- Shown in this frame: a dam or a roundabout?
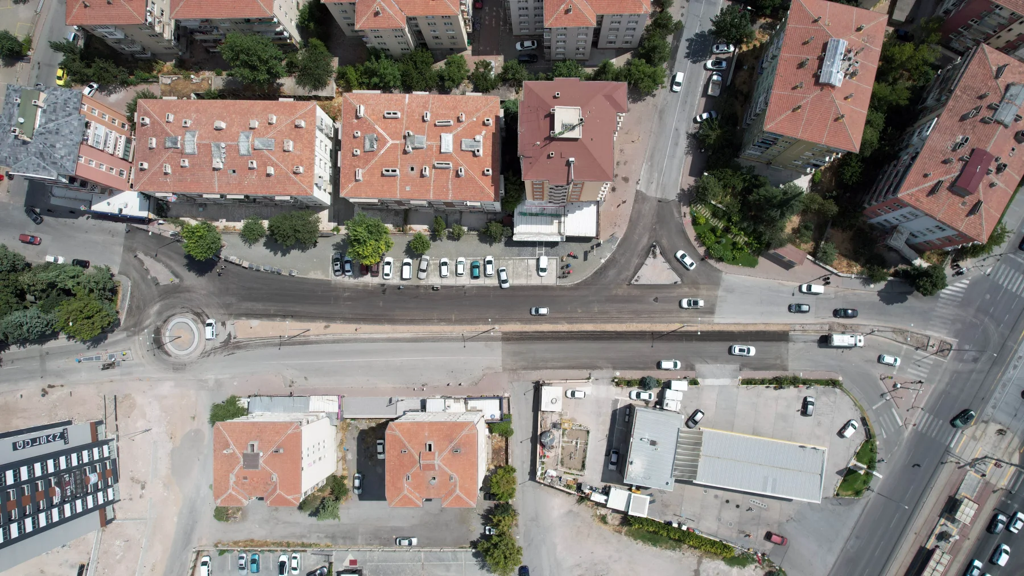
roundabout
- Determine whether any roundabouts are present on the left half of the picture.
Yes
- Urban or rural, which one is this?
urban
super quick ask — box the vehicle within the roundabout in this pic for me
[203,318,218,342]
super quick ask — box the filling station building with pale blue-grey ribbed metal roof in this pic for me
[620,401,685,492]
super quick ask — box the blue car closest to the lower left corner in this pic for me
[248,552,261,574]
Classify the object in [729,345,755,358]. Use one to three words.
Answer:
vehicle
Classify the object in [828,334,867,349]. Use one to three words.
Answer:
vehicle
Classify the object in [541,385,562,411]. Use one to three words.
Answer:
shed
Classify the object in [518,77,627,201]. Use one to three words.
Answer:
building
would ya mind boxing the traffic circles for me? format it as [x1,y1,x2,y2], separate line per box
[134,289,227,382]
